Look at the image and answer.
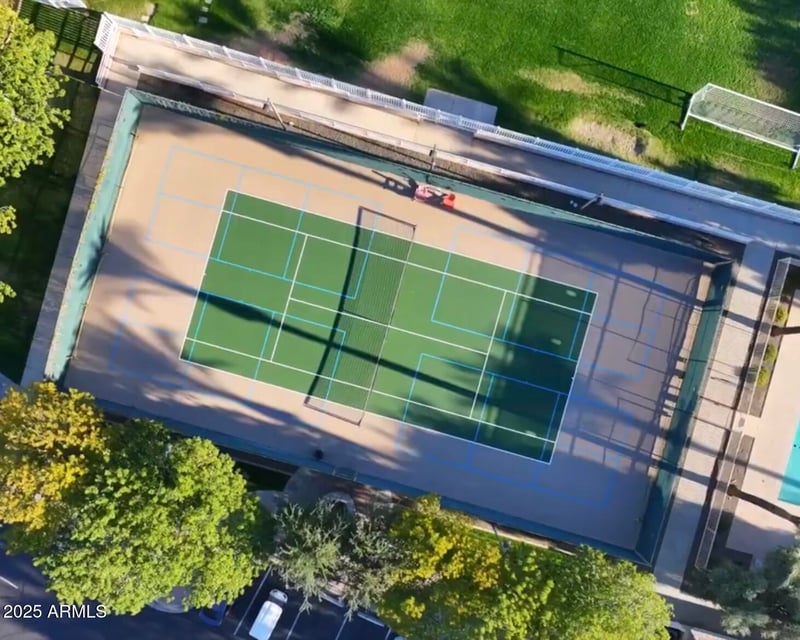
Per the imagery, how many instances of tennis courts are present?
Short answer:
one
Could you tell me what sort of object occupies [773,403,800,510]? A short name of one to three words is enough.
swimming pool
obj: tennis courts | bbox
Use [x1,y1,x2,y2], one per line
[60,99,714,548]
